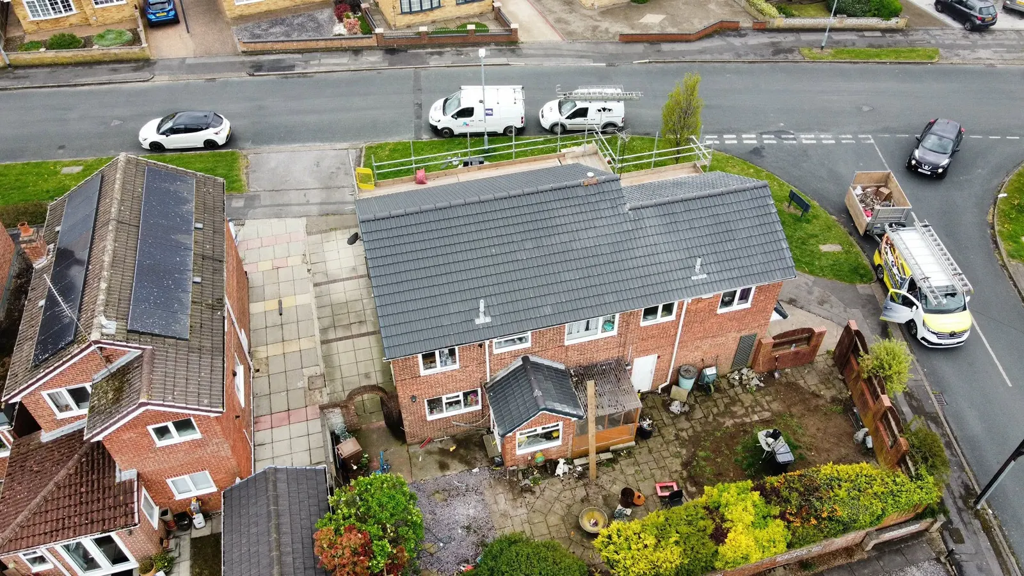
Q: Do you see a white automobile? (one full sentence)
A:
Yes, the image includes a white automobile.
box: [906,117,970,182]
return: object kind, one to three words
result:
car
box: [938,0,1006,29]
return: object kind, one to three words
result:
car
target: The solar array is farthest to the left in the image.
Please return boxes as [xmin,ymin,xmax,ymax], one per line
[25,172,98,368]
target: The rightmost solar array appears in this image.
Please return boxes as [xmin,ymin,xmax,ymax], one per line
[130,164,197,338]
